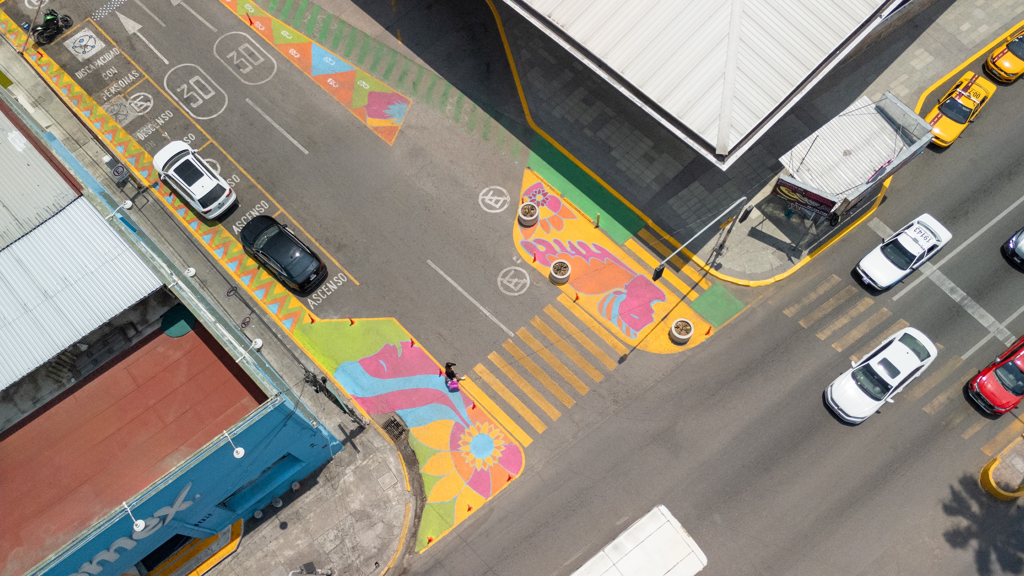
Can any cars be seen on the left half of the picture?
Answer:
Yes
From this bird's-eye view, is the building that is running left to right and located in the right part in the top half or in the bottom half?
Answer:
top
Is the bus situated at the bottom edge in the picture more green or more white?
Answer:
white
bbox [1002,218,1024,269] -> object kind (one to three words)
car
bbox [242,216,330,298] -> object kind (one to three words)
car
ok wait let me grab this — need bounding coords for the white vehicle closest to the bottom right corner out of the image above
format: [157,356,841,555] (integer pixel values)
[826,325,940,427]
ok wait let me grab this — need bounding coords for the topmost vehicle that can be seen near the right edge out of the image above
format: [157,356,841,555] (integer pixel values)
[983,17,1024,84]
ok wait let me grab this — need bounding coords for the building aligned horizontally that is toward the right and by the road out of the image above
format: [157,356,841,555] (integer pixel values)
[501,0,903,172]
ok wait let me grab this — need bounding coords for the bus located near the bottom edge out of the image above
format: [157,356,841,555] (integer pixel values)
[569,506,703,576]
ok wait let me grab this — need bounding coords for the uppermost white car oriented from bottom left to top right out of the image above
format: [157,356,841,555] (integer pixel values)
[853,211,954,296]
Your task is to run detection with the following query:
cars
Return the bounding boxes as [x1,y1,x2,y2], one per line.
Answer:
[1002,218,1024,269]
[242,216,330,298]
[853,211,954,296]
[156,142,243,228]
[826,325,940,427]
[969,319,1024,412]
[927,69,1001,153]
[983,17,1024,84]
